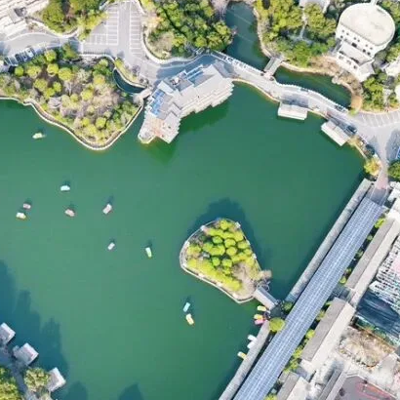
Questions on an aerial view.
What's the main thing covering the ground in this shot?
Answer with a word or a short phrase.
water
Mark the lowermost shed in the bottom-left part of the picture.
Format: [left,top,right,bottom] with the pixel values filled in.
[46,366,67,394]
